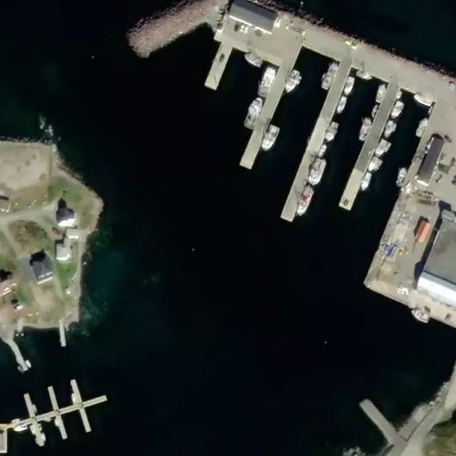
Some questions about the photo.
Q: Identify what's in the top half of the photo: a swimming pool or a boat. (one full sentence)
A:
The feature located in the top half of the photo is a boat.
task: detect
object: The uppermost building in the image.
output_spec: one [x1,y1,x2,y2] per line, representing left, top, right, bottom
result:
[228,0,278,34]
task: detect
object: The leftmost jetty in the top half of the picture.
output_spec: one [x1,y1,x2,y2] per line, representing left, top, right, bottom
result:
[205,42,233,90]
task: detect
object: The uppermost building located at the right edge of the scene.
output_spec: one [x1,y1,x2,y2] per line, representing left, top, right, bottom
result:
[416,137,446,186]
